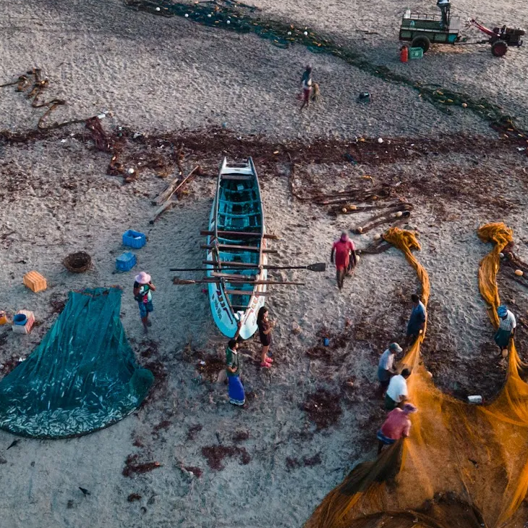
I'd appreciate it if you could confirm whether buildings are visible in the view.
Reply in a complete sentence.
No, the picture doesn't show any building.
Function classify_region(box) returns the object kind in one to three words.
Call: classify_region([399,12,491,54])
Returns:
trailer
